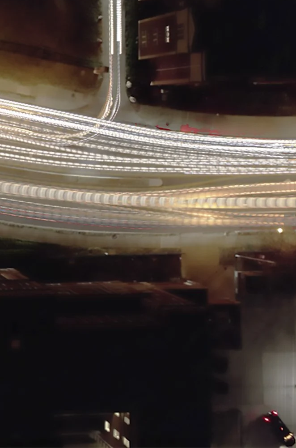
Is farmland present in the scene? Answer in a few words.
No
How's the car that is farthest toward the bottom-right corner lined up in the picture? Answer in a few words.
at an angle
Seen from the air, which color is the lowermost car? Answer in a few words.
black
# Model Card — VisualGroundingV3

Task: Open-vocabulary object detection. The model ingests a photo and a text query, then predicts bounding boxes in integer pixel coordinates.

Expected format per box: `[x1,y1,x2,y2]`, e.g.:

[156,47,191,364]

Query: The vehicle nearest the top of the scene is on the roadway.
[108,31,122,56]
